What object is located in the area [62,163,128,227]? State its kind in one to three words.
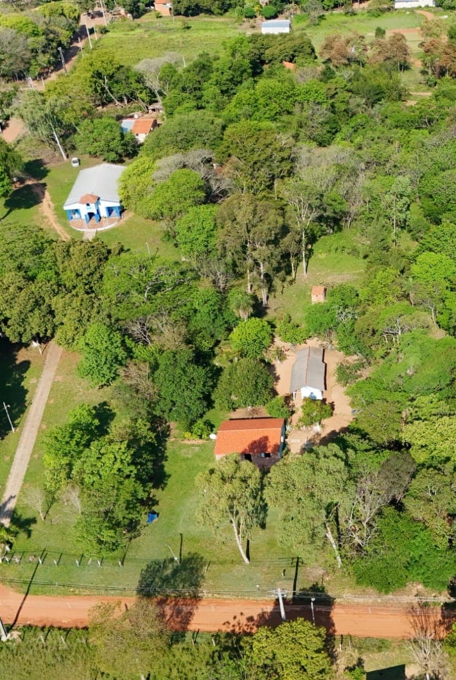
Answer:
building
